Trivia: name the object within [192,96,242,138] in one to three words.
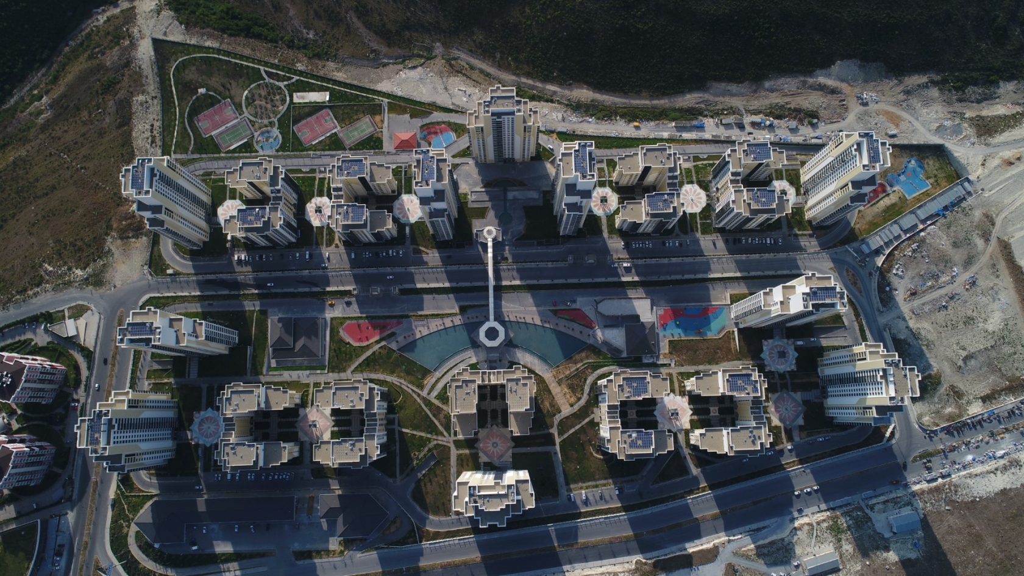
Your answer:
basketball court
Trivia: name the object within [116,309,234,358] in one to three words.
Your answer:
building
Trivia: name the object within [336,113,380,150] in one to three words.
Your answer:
tennis court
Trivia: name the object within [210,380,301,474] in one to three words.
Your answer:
building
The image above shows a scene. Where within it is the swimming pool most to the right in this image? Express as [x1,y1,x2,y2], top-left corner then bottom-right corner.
[500,321,590,367]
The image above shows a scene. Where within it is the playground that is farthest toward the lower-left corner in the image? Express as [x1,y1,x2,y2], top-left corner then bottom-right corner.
[339,321,403,342]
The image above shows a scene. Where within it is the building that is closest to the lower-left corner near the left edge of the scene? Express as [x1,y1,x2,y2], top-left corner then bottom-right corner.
[0,428,53,482]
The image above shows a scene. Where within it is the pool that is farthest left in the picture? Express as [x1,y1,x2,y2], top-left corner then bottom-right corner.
[396,320,486,370]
